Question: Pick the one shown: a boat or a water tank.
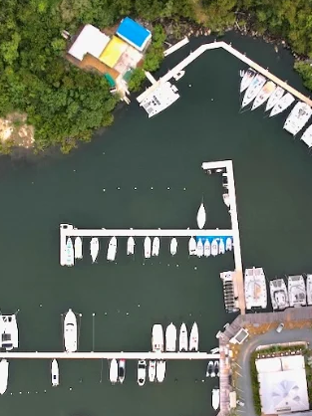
boat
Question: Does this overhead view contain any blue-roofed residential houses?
Yes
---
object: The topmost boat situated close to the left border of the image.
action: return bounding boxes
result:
[0,315,19,349]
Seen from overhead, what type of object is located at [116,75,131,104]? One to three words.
boat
